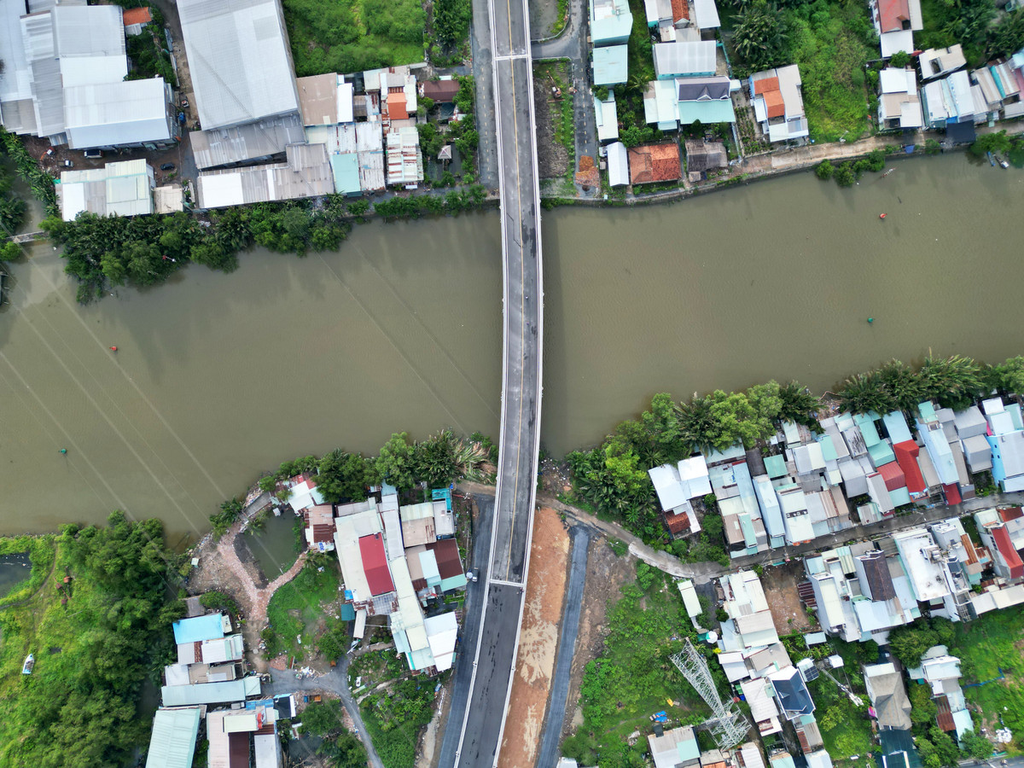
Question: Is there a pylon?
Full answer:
Yes, looking at the shot, I can spot a pylon.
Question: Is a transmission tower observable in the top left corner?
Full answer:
No, in the top left corner there is no transmission tower.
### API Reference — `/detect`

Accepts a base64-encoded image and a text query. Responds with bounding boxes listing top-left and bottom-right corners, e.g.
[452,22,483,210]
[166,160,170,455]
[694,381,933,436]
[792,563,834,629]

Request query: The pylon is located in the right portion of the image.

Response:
[671,639,753,747]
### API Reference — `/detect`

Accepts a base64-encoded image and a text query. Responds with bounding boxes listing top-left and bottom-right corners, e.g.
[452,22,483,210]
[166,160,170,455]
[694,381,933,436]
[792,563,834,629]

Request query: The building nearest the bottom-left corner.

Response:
[145,701,211,768]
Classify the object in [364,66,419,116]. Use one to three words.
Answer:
house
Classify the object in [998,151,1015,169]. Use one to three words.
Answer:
boat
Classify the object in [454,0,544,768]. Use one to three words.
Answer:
bridge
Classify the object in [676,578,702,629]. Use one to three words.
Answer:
shed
